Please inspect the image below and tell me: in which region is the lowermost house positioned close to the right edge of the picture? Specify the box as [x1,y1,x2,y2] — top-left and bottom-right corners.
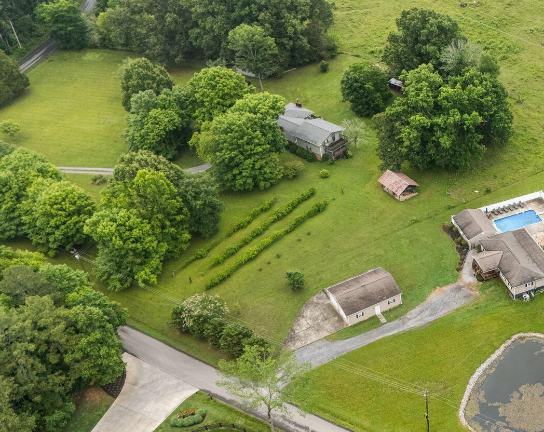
[471,230,544,298]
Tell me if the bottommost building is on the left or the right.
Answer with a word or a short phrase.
right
